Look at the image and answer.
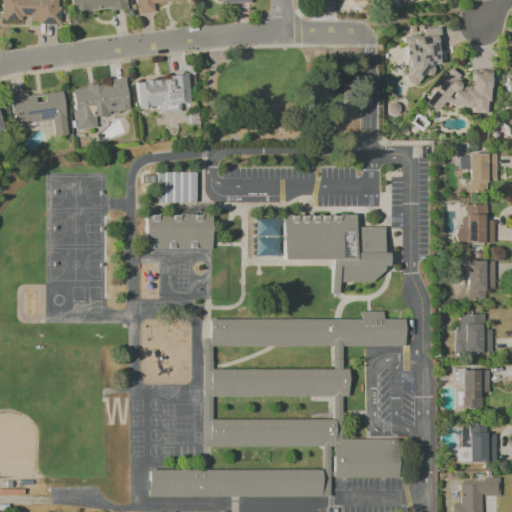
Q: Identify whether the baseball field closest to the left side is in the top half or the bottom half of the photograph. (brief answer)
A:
bottom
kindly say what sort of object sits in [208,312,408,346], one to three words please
building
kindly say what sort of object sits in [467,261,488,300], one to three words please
house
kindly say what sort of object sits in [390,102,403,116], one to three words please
gazebo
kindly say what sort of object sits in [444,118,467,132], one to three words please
swimming pool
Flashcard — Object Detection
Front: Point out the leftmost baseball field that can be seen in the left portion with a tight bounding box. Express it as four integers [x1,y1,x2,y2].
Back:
[0,408,42,480]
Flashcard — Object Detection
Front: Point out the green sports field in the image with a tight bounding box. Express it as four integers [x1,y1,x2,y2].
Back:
[0,159,129,480]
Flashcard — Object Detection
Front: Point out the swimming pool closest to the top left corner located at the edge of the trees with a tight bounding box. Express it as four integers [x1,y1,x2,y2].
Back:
[27,130,46,148]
